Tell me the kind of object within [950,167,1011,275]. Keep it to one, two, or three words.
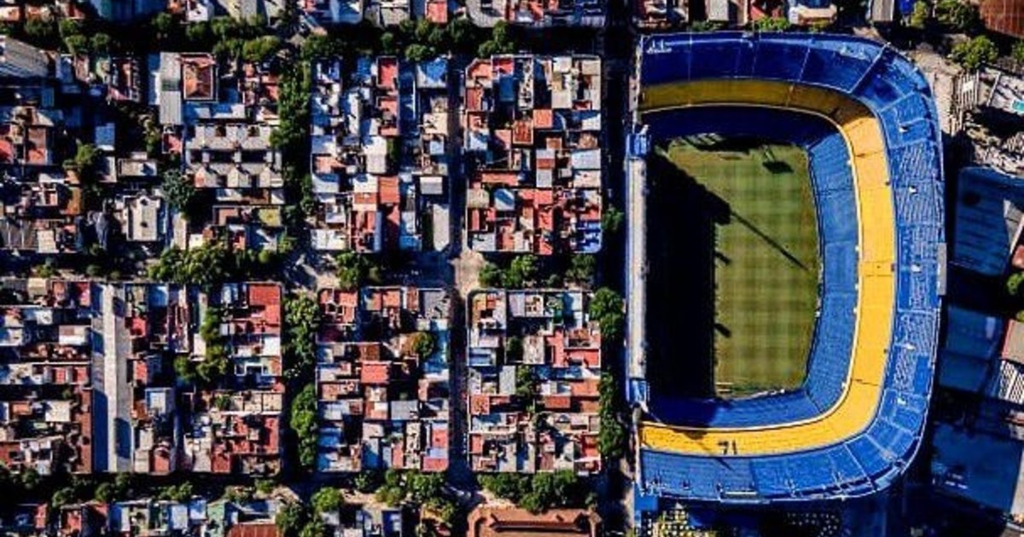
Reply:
building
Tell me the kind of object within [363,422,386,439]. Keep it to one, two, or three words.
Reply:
house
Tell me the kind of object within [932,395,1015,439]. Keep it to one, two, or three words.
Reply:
building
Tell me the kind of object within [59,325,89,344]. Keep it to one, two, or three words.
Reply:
house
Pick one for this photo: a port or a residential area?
residential area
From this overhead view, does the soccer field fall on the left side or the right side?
right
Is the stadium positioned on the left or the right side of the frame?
right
